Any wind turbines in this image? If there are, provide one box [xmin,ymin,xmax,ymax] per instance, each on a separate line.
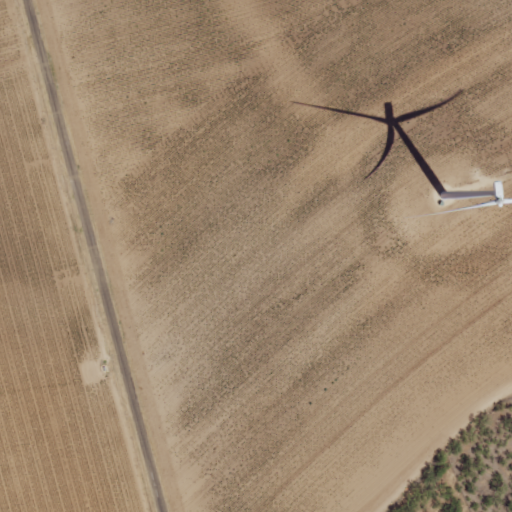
[418,182,512,218]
